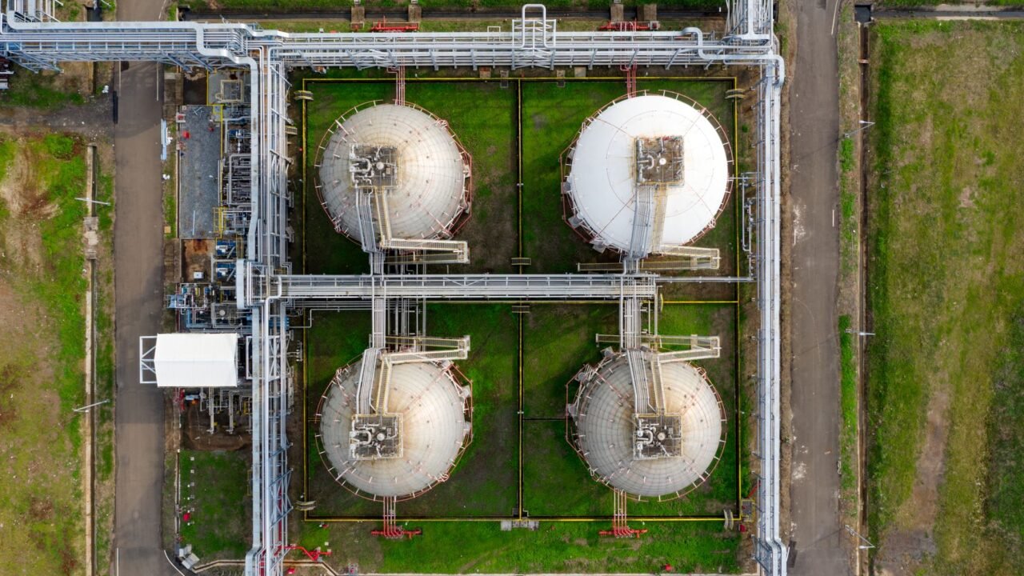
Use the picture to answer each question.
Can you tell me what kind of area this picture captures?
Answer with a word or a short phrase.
industrial area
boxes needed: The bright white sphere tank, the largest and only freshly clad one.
[560,88,736,261]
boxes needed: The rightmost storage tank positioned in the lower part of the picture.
[565,341,728,503]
